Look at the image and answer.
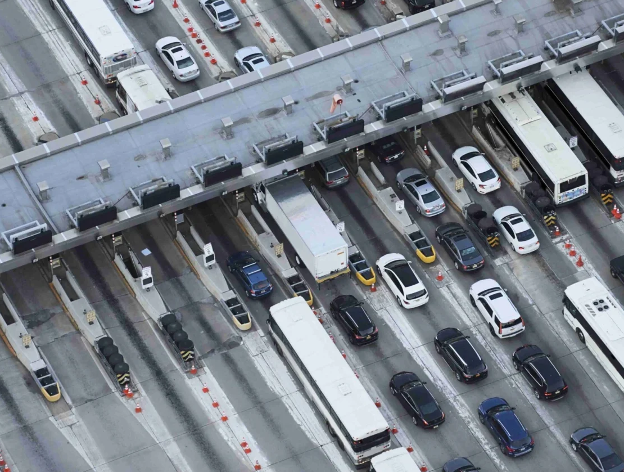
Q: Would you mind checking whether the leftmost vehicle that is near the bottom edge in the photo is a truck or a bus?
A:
bus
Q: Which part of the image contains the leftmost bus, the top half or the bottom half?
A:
top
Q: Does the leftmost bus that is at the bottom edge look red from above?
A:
No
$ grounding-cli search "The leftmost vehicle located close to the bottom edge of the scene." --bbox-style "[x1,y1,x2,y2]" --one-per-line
[265,302,391,470]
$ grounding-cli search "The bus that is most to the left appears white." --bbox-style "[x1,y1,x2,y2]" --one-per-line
[50,0,136,87]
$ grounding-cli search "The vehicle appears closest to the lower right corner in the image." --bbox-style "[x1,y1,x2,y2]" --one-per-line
[572,428,624,472]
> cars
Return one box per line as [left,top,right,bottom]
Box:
[493,208,540,253]
[513,346,568,402]
[368,133,403,163]
[331,297,378,346]
[610,256,624,284]
[333,0,365,11]
[124,0,154,15]
[435,328,488,385]
[437,225,484,271]
[391,374,445,430]
[200,0,240,34]
[470,281,526,339]
[450,462,482,472]
[404,0,438,17]
[365,26,384,35]
[236,44,274,74]
[572,428,624,472]
[156,38,199,81]
[479,400,534,458]
[398,170,445,218]
[309,153,351,189]
[229,254,273,300]
[377,254,429,308]
[453,149,501,195]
